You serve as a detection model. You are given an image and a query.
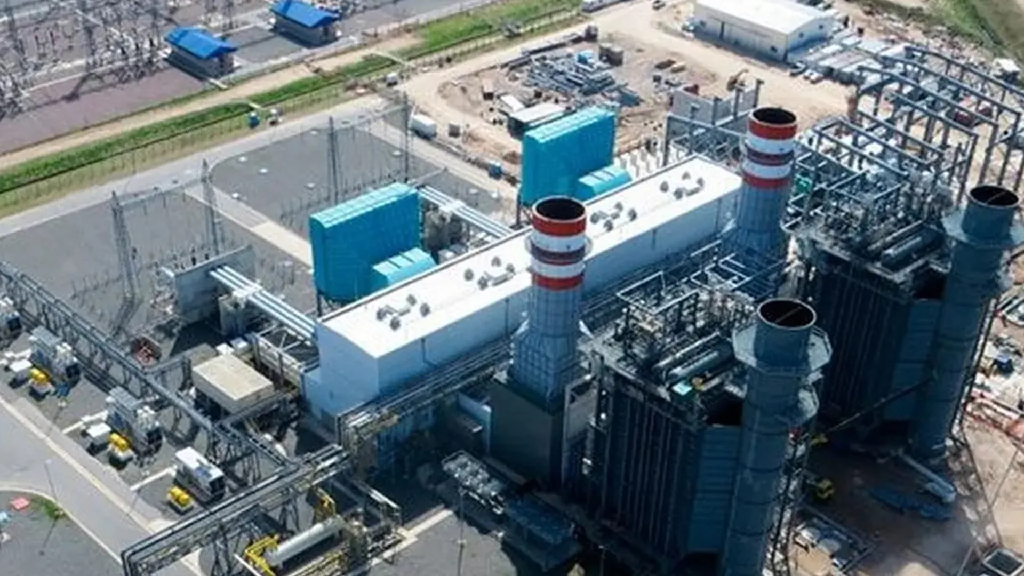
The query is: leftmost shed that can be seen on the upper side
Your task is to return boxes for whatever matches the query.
[161,30,232,77]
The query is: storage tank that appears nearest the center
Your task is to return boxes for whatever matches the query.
[424,211,466,250]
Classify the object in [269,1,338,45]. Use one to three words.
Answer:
shed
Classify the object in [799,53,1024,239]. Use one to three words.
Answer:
building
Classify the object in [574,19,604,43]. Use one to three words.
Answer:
truck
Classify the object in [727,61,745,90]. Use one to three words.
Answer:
work vehicle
